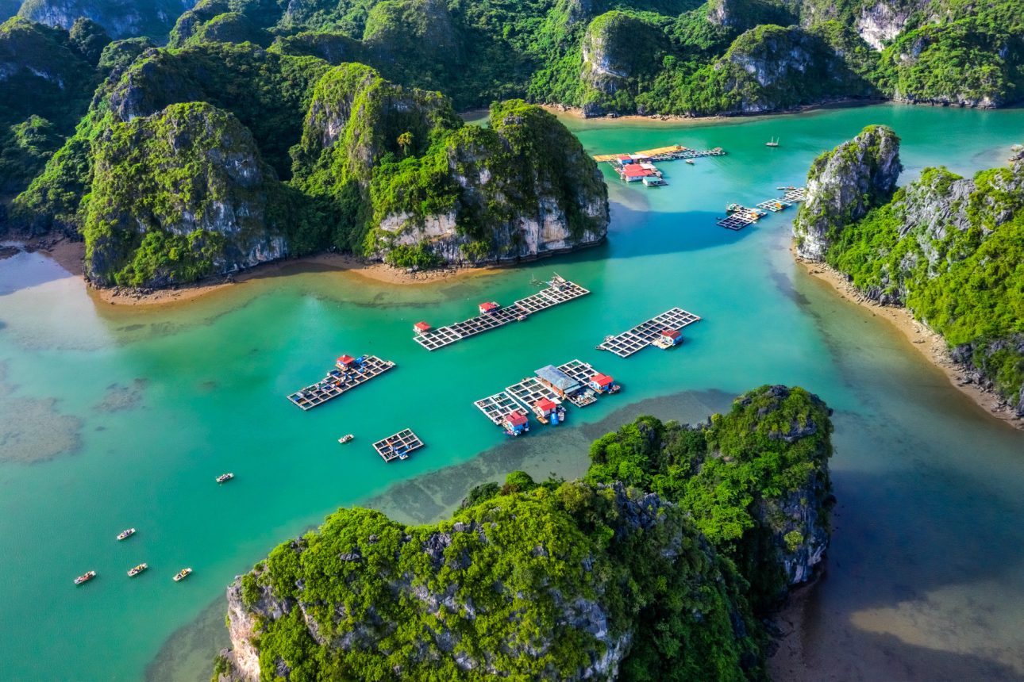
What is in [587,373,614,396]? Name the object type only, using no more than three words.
house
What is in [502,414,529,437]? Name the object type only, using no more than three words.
house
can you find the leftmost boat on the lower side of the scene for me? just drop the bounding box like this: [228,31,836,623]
[71,570,98,585]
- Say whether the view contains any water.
Yes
